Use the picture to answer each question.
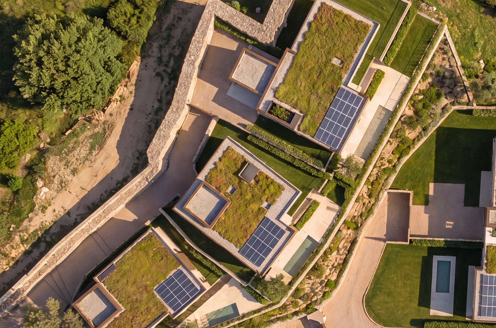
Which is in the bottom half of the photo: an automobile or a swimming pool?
swimming pool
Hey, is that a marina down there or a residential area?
residential area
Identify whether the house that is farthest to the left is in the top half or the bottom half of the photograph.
bottom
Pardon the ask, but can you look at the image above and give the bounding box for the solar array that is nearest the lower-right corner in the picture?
[481,274,496,317]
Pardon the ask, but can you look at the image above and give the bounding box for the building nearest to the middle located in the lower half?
[172,136,305,275]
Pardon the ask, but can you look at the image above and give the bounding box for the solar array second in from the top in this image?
[240,217,285,266]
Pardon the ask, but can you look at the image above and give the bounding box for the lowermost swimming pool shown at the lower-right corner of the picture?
[434,259,452,294]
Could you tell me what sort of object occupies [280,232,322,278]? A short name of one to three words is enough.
swimming pool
